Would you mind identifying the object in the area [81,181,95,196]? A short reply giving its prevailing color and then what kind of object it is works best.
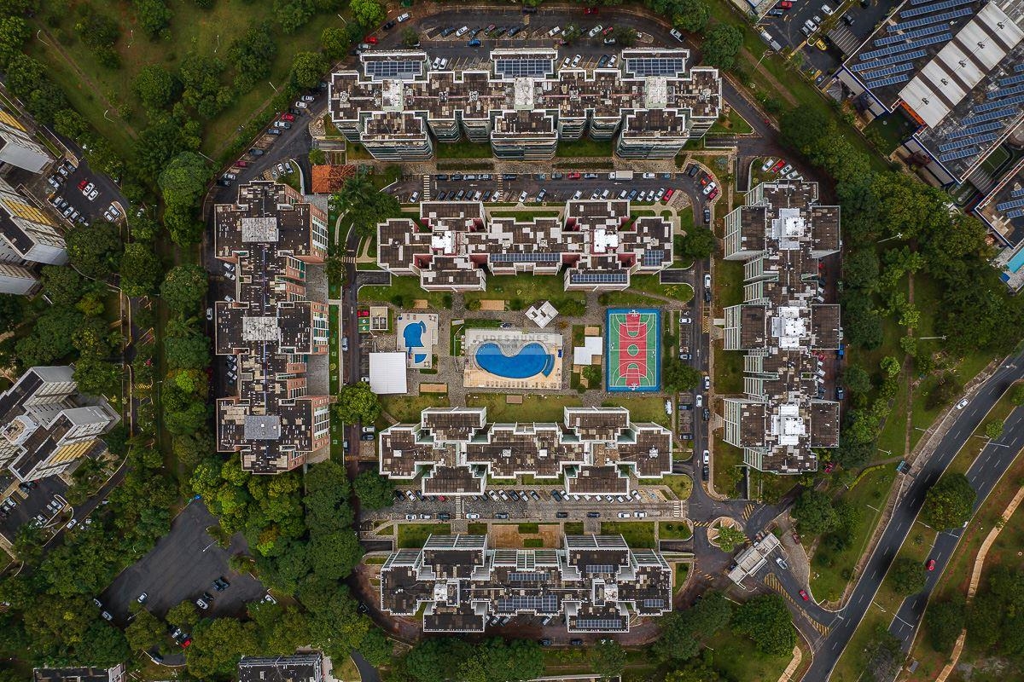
white car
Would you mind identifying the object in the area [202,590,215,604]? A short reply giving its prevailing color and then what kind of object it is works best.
black vehicle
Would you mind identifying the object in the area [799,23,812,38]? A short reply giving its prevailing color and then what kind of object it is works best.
gray vehicle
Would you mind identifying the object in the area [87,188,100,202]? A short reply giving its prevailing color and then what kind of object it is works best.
white vehicle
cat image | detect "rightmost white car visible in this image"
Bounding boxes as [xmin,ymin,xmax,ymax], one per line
[954,398,969,410]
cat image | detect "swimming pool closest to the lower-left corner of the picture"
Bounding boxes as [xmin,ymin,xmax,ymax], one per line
[397,313,438,369]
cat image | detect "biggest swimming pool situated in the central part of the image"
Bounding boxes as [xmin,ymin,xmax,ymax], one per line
[464,329,562,389]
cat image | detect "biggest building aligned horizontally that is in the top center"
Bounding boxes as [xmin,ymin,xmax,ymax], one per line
[328,48,722,166]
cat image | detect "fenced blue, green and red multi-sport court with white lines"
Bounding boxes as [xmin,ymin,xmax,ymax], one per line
[607,308,663,392]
